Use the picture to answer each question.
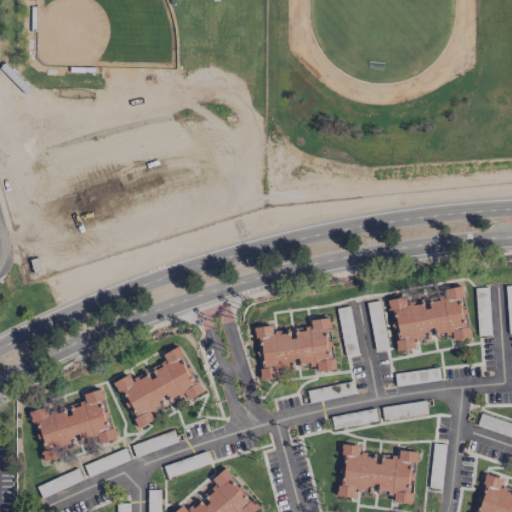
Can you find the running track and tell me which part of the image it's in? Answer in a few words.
top right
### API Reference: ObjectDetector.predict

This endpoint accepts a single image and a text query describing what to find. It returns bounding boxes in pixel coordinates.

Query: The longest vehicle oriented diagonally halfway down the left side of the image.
[72,214,85,232]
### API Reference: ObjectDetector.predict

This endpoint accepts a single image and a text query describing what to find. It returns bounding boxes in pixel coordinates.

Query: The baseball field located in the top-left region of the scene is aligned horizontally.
[38,0,176,67]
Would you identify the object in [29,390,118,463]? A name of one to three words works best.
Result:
building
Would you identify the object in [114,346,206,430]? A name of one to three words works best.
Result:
building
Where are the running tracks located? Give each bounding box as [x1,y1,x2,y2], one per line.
[289,0,477,105]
